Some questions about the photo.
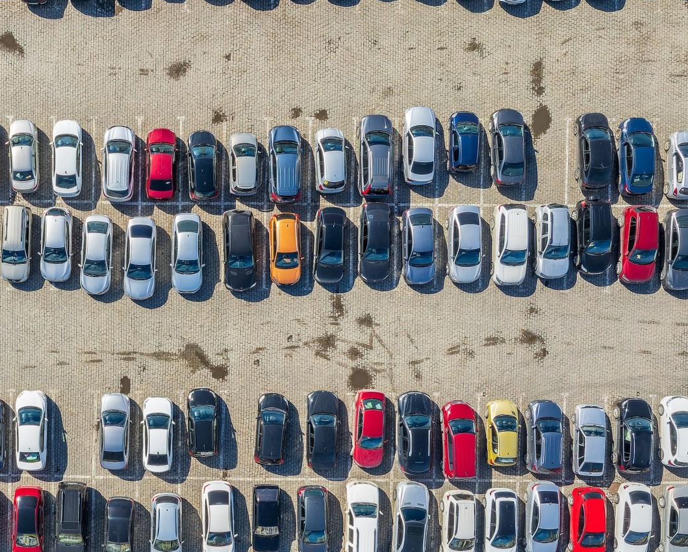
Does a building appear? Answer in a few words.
No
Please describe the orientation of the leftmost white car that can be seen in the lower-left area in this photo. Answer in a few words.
vertically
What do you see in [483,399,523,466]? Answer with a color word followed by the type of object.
yellow car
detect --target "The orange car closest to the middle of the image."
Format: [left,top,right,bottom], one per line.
[268,212,305,286]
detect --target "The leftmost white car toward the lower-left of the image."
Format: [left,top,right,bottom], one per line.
[12,390,50,471]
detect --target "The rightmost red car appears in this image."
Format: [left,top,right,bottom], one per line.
[616,205,662,284]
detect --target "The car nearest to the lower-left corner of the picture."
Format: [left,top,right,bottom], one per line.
[11,483,48,552]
